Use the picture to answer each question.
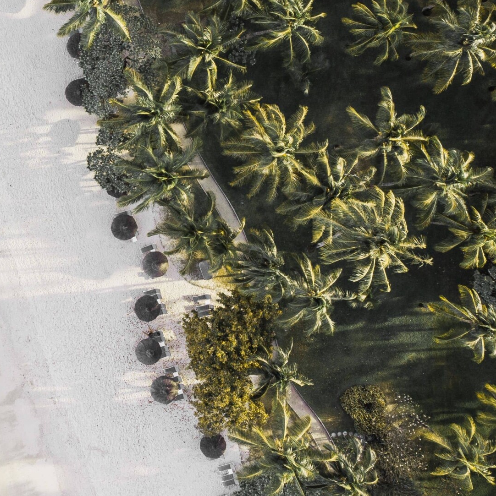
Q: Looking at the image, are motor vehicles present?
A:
No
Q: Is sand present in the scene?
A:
Yes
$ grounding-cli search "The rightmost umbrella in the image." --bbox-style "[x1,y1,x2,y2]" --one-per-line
[198,433,226,459]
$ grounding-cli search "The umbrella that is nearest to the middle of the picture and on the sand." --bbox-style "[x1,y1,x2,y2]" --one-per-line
[141,250,169,279]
